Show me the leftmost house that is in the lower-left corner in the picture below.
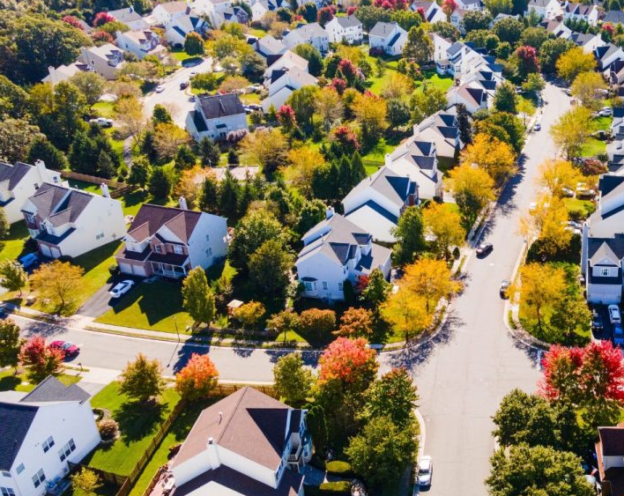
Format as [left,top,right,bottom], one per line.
[0,368,89,496]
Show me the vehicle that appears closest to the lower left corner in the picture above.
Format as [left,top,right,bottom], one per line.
[53,341,81,357]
